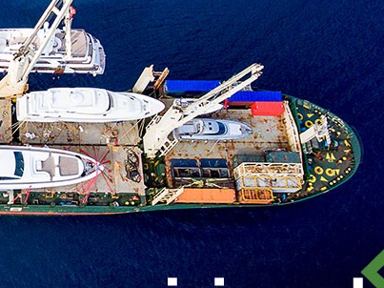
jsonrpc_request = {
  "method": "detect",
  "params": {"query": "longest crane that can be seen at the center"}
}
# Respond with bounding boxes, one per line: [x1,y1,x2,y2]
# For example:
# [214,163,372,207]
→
[141,65,265,169]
